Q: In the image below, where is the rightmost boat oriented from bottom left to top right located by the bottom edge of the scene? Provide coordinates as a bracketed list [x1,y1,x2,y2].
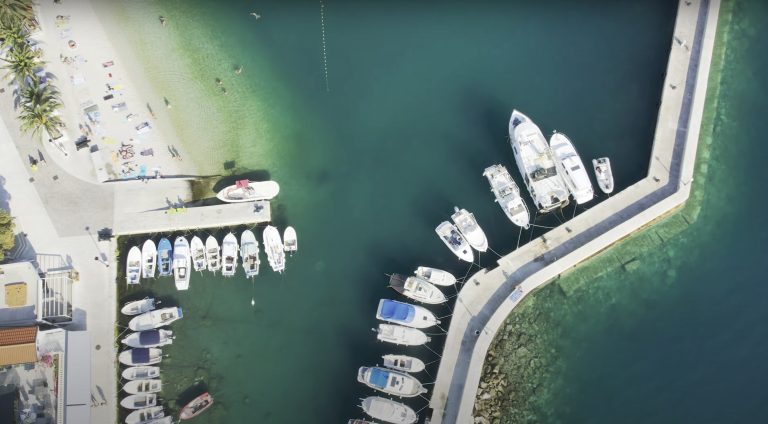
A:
[179,392,218,423]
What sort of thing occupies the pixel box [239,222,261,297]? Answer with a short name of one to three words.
boat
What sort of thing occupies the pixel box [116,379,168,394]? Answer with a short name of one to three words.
boat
